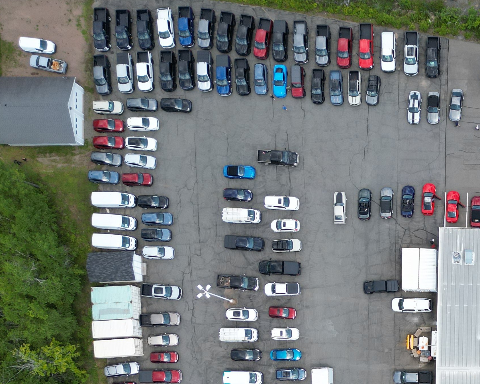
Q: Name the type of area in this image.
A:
parking lot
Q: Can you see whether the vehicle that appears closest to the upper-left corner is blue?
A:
No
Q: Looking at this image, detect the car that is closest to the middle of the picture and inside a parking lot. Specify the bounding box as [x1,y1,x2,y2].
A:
[222,187,253,203]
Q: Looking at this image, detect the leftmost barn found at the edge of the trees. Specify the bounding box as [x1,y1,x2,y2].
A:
[0,76,84,149]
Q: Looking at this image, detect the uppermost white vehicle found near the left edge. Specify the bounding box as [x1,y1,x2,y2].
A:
[17,36,59,57]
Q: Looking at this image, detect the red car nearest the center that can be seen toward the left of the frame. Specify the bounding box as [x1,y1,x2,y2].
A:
[121,171,155,188]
